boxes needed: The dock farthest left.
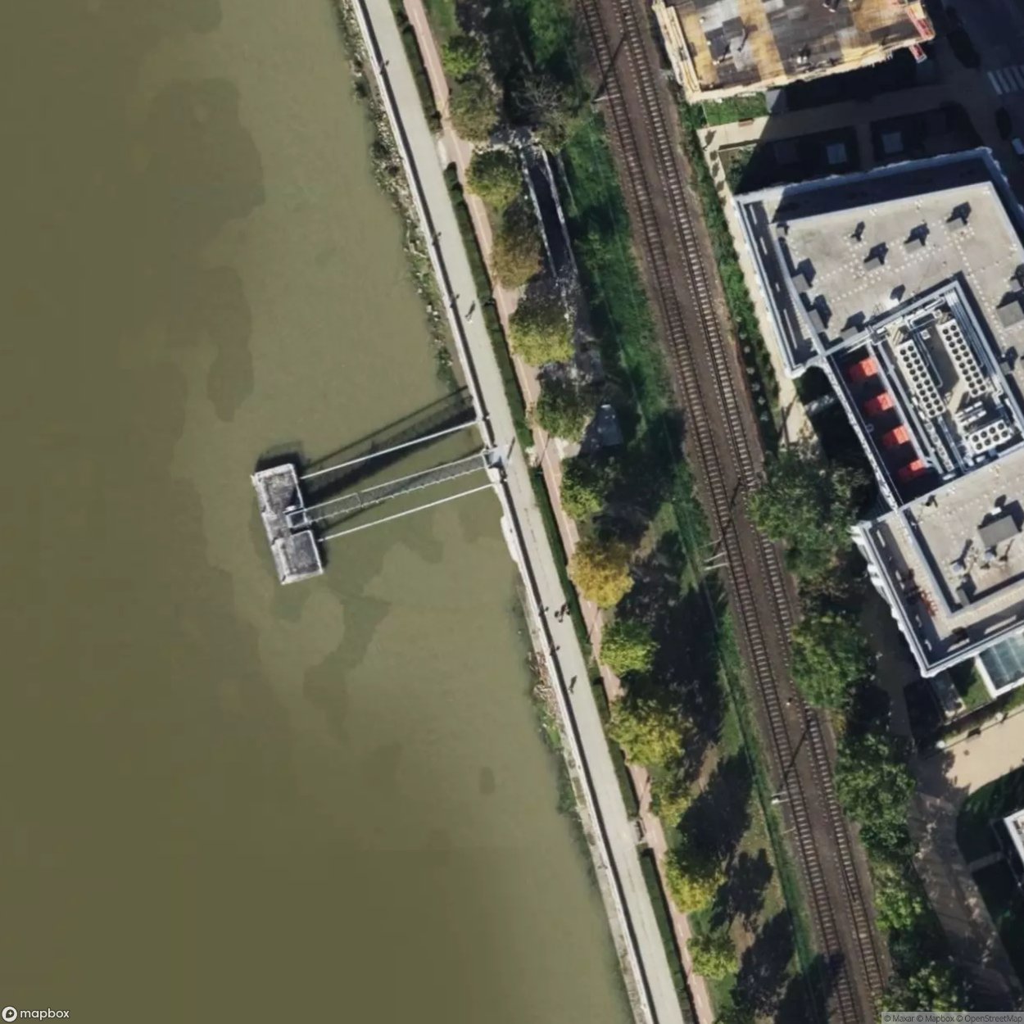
[253,461,325,585]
